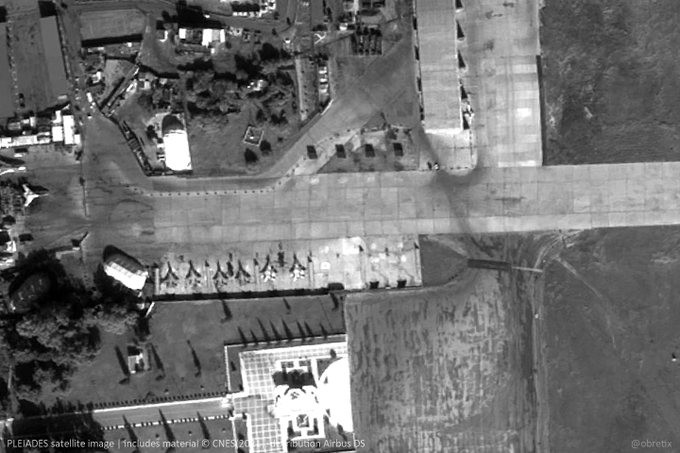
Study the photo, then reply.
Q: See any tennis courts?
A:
No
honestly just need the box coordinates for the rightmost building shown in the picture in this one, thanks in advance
[414,0,473,134]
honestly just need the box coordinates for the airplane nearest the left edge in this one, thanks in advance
[22,187,45,207]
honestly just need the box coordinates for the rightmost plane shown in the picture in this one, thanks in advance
[289,262,303,286]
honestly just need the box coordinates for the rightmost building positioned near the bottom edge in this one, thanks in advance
[268,383,325,441]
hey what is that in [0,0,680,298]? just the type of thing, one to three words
airport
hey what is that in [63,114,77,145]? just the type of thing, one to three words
building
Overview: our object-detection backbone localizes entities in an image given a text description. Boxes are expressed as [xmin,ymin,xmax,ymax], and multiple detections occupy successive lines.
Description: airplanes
[164,269,179,293]
[22,187,45,207]
[261,264,276,287]
[289,262,303,286]
[211,268,226,293]
[234,268,249,292]
[187,268,201,292]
